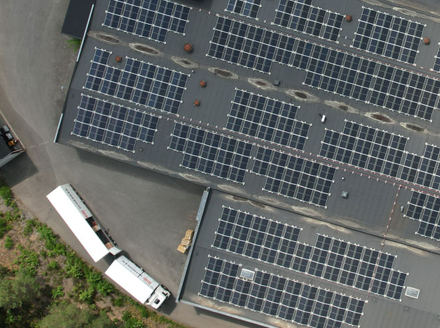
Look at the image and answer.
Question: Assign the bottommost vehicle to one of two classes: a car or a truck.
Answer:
truck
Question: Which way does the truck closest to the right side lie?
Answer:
diagonally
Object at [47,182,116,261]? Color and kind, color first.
white trailer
